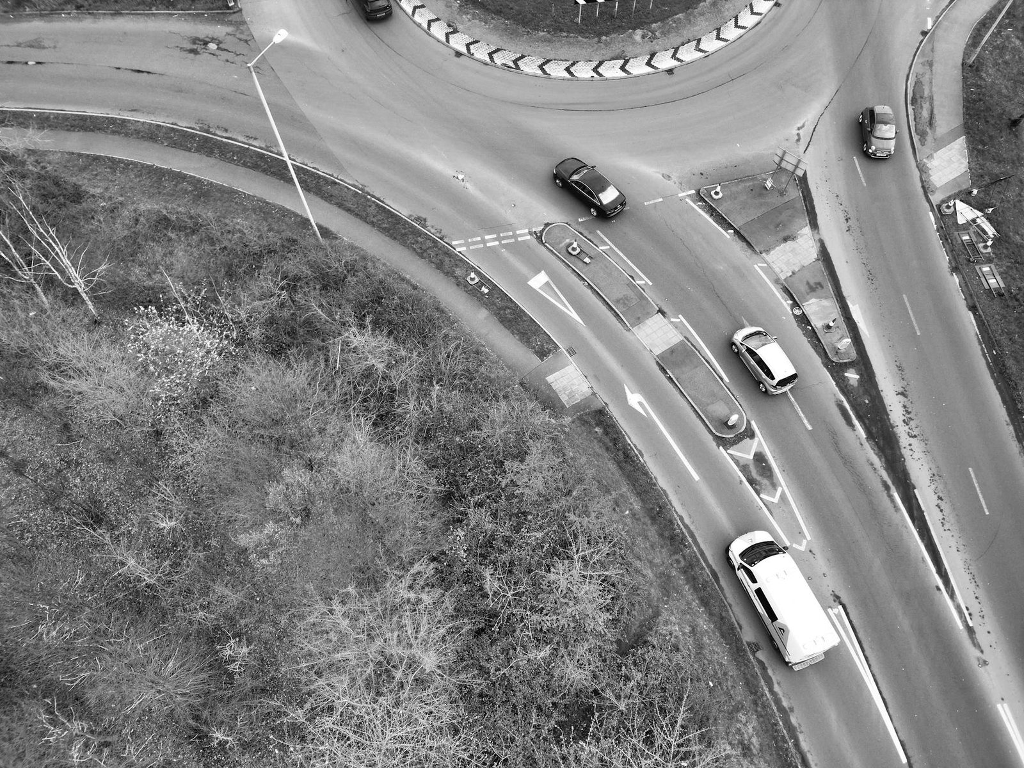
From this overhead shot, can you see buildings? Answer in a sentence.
No, the picture doesn't show any building.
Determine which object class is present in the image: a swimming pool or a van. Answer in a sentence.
Visible in the photo is a van.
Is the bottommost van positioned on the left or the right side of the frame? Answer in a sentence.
The bottommost van sits on the right side.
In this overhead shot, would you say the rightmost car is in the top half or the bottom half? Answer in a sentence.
The rightmost car is in the top half of the image.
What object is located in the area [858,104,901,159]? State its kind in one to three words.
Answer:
car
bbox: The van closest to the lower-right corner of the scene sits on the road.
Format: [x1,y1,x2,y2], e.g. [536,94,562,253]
[727,536,840,678]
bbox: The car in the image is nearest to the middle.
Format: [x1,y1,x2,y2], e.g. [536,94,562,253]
[553,156,628,221]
